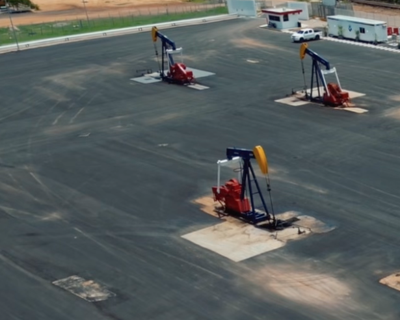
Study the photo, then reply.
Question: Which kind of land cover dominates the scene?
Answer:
paved ground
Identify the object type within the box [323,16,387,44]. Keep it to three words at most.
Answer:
building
